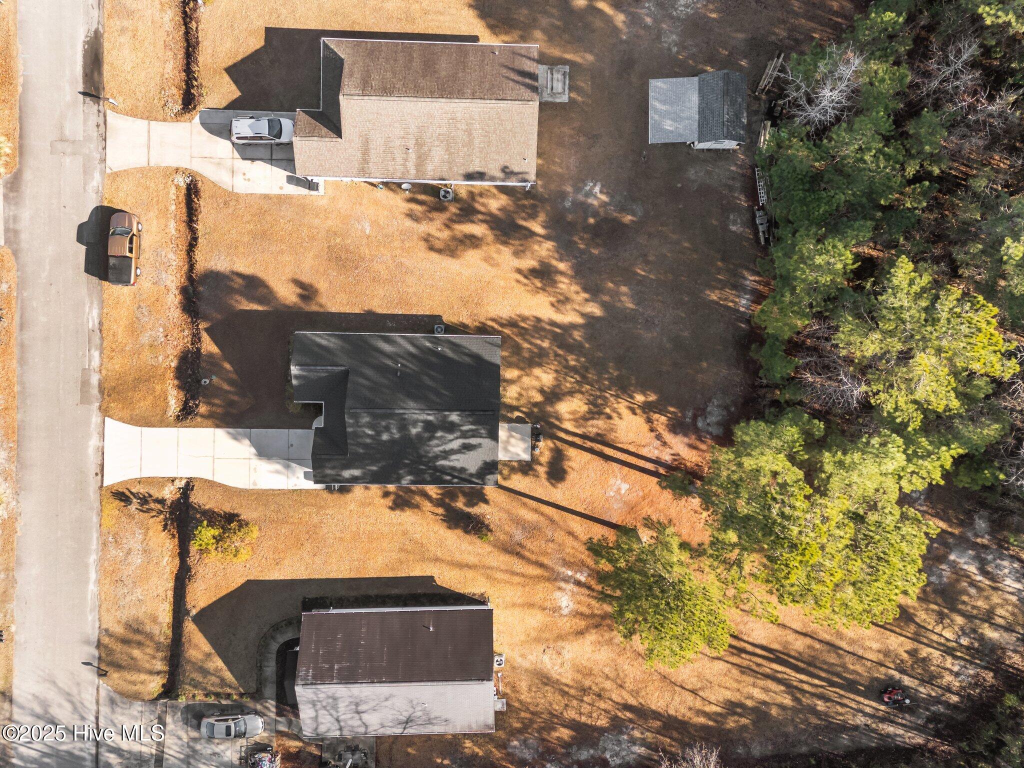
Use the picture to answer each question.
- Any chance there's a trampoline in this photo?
No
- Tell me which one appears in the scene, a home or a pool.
home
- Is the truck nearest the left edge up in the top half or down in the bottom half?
top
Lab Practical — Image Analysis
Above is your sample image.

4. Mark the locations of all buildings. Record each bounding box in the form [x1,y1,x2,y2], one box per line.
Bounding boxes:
[285,595,495,739]
[291,38,540,192]
[647,68,746,157]
[291,331,501,488]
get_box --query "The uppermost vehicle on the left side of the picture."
[229,115,294,148]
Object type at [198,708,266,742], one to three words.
car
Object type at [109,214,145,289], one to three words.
truck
